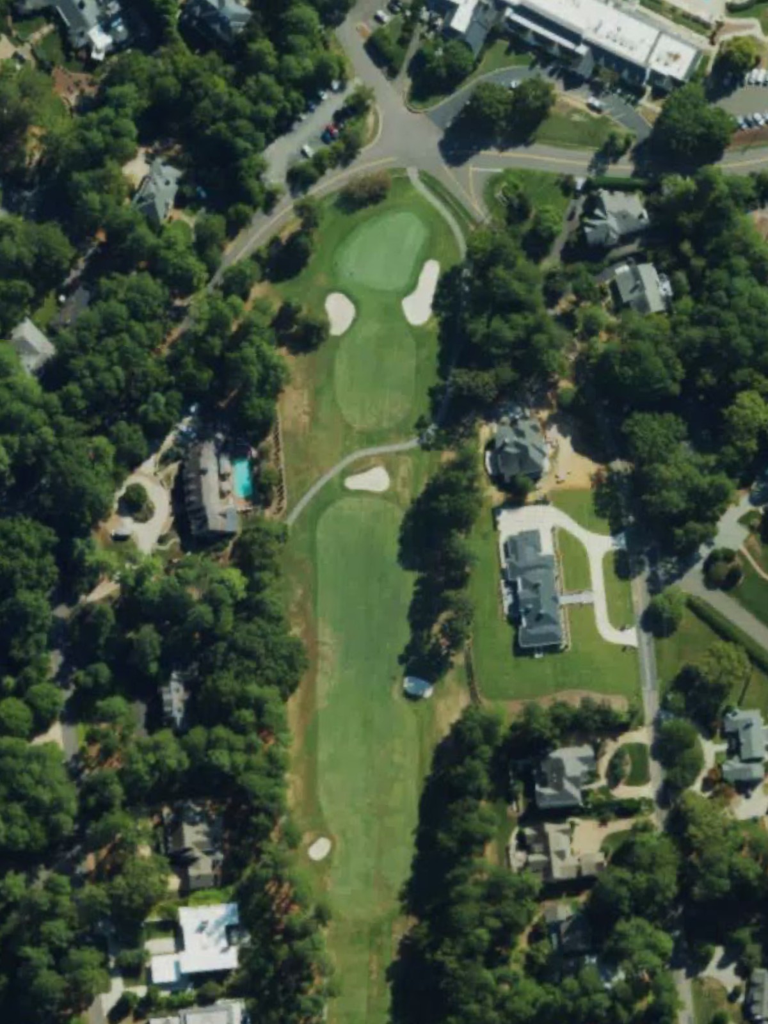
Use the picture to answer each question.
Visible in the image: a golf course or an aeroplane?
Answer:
golf course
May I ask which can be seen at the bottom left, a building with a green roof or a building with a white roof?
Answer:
building with a white roof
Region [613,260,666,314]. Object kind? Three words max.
house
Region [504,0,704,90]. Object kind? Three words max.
building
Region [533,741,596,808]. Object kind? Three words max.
house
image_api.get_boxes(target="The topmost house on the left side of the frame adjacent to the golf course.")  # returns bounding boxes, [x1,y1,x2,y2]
[184,441,237,542]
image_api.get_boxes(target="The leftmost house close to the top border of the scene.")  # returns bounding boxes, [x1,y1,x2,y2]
[6,0,112,60]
